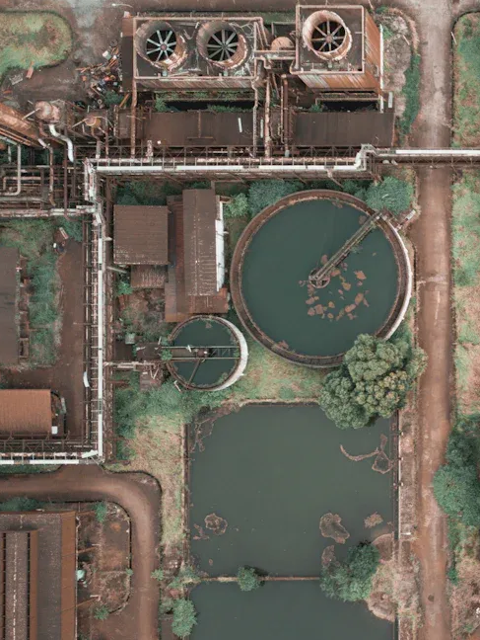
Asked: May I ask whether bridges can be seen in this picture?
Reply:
Yes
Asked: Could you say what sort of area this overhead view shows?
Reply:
industrial area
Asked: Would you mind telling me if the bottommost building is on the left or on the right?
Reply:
left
